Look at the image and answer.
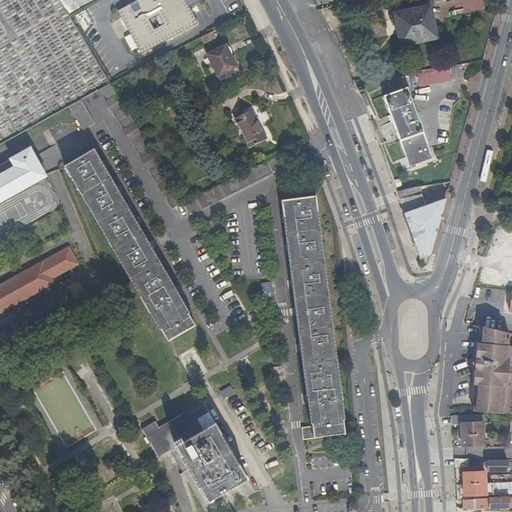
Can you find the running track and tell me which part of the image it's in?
left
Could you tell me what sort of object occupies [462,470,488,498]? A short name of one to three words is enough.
house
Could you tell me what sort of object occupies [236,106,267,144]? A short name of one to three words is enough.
house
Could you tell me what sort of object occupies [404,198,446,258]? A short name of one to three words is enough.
building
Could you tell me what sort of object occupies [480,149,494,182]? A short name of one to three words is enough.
vehicle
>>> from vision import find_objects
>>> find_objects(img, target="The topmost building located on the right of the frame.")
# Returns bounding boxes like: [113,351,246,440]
[392,4,439,44]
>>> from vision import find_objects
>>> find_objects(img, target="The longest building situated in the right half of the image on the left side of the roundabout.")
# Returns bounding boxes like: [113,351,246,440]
[282,196,346,438]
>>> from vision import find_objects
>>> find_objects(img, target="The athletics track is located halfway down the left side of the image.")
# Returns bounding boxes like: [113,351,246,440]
[0,178,61,238]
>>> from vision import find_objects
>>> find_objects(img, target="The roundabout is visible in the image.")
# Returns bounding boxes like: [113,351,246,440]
[397,298,430,361]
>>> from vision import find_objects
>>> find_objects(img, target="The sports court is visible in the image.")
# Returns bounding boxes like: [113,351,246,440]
[34,371,96,448]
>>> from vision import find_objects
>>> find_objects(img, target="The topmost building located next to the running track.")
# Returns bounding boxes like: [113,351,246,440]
[0,146,48,202]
